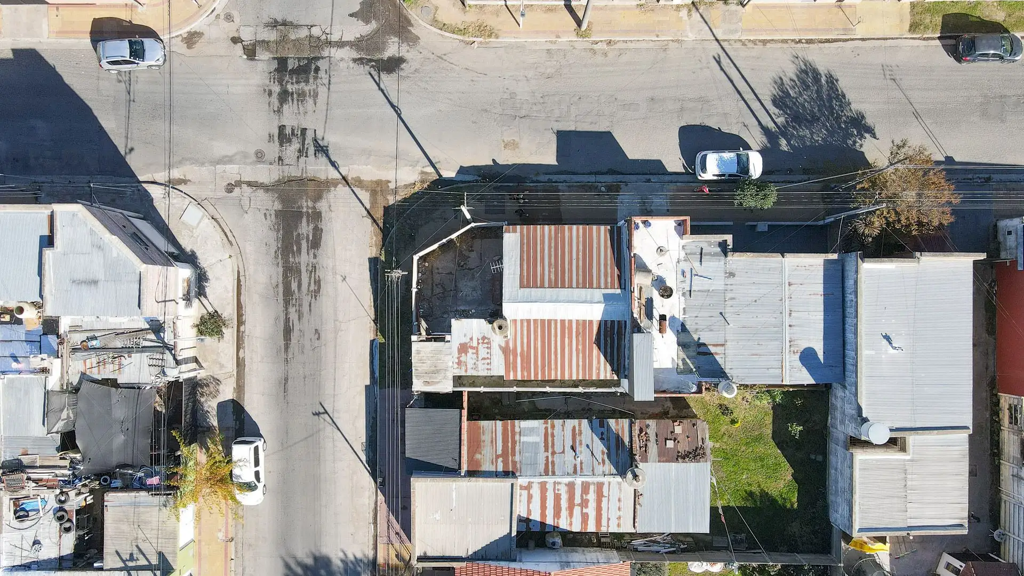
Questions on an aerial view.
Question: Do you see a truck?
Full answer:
No, I can't see a single truck in this photo.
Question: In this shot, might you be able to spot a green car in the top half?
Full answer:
No, looking in the top half, there is no green car.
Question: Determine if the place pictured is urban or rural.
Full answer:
It looks urban.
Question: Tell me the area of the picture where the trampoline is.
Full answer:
Look in the bottom right portion of the view to spot the trampoline.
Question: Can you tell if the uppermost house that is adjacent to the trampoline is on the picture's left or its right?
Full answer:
The uppermost house that is adjacent to the trampoline sits on the right side.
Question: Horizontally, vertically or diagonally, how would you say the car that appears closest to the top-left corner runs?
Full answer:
In this picture, the car that appears closest to the top-left corner is oriented horizontally.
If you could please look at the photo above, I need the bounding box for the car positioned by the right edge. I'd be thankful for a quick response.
[957,30,1024,68]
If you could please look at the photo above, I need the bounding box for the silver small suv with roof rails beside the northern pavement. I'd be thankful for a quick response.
[89,34,163,72]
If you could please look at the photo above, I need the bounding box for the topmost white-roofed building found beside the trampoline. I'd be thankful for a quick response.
[824,254,985,536]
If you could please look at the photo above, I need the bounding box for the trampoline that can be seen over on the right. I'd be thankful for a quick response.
[852,551,897,576]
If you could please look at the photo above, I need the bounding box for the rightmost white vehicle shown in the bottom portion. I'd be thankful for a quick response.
[230,432,270,503]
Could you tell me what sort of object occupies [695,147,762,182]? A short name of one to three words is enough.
car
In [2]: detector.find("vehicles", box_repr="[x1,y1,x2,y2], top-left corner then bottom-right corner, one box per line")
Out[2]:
[504,188,533,203]
[957,30,1024,68]
[695,147,762,182]
[89,34,163,72]
[230,432,270,503]
[693,182,724,196]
